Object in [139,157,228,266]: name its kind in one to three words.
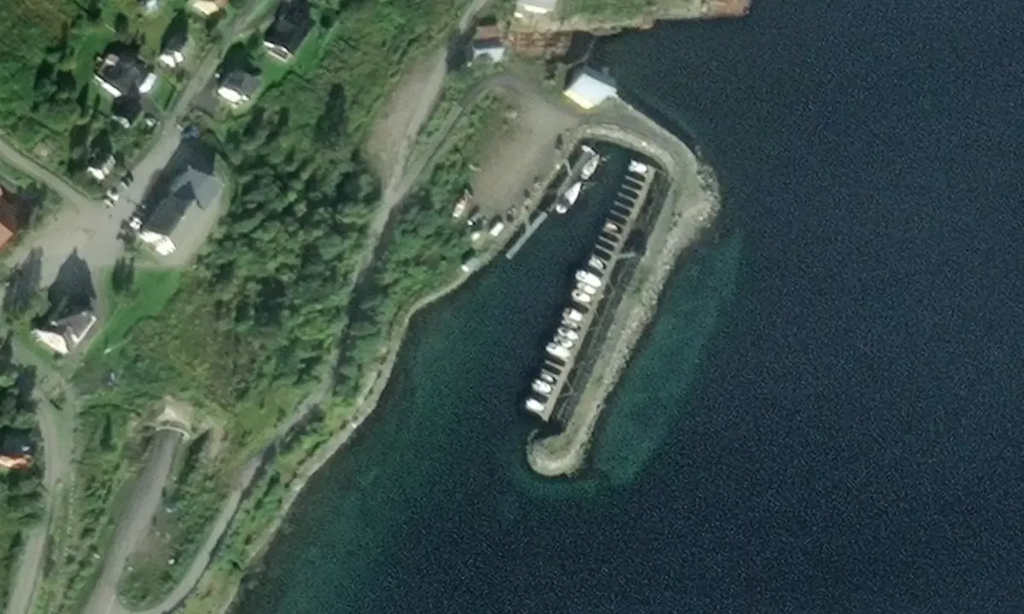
building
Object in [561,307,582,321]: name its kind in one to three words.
boat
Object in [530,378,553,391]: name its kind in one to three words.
boat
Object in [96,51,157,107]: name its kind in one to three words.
house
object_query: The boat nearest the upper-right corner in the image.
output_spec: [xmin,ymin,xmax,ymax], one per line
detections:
[628,159,649,173]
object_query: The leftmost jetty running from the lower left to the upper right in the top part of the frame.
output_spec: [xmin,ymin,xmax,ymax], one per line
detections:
[507,212,547,259]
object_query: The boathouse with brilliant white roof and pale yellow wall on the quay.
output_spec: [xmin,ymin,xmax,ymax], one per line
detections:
[564,65,612,113]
